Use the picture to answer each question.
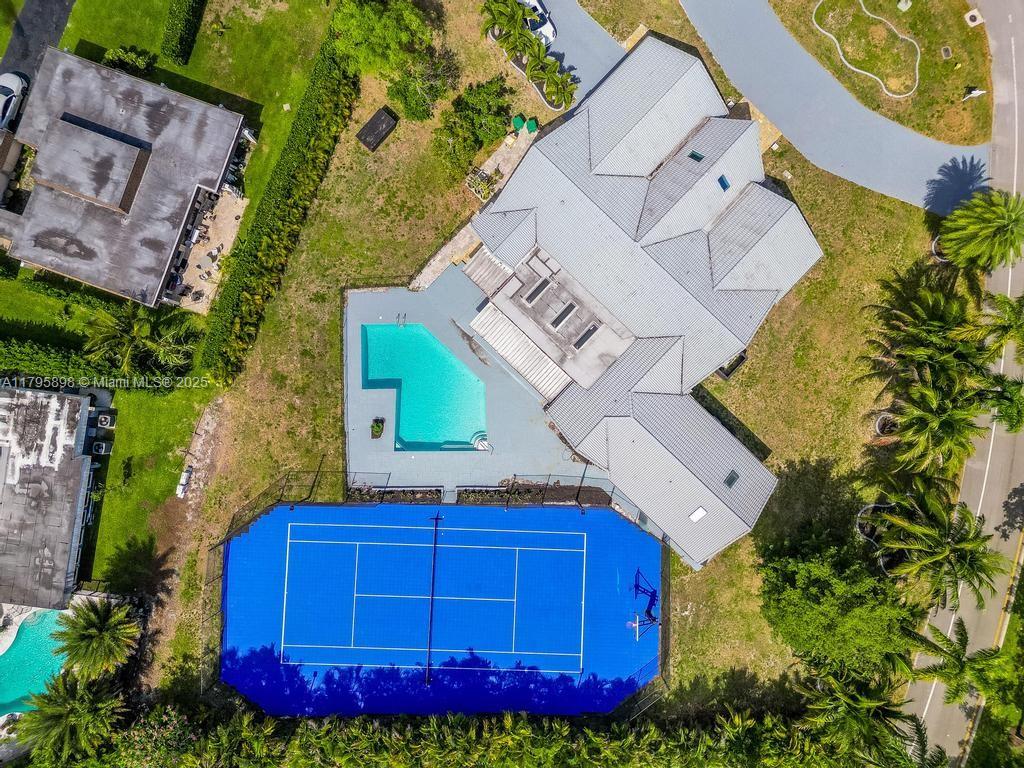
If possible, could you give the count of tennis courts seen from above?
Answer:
1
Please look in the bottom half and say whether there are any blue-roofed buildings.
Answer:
No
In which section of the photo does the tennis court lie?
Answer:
bottom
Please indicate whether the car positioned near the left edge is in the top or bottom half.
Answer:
top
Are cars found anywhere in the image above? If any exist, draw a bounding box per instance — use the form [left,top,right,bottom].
[518,0,552,43]
[0,73,23,128]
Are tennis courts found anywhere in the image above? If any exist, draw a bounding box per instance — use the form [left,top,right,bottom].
[218,504,663,720]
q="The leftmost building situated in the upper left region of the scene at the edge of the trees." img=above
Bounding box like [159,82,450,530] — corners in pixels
[0,46,245,307]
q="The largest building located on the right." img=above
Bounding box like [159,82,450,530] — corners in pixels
[463,38,823,566]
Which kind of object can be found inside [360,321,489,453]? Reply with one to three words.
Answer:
swimming pool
